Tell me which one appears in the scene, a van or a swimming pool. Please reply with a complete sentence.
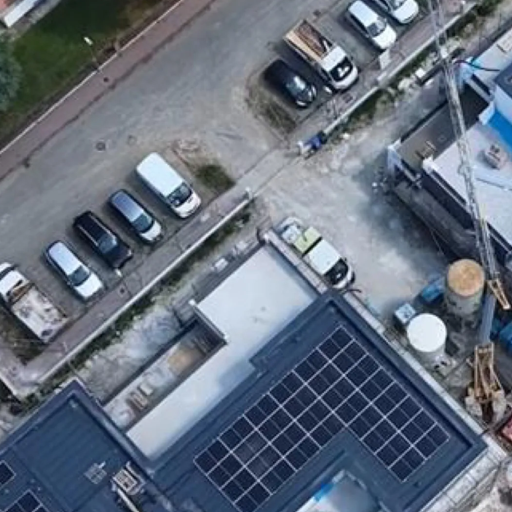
The image shows a van.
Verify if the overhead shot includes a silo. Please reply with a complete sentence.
Yes, you can see a silo in this photo.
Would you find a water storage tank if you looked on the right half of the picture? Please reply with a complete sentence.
Yes, the scene does show a water storage tank on the right half of the picture.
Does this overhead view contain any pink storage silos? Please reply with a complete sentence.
No, I can't see a single pink storage silo in this photo.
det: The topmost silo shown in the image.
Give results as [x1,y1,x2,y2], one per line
[447,260,485,308]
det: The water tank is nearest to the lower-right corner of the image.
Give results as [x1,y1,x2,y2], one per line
[407,314,447,359]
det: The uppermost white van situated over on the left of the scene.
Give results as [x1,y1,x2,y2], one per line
[135,150,202,218]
